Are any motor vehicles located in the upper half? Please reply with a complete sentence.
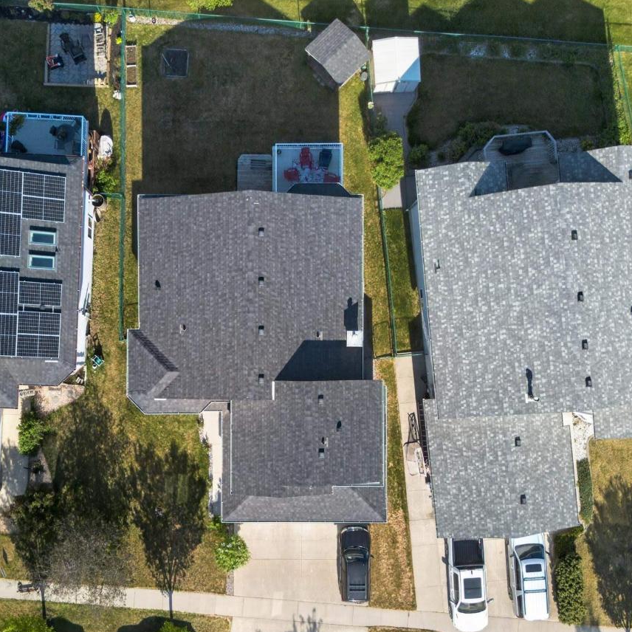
No, no motor vehicle can be made out in the upper half.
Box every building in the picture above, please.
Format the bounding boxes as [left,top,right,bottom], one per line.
[406,145,632,537]
[369,37,421,92]
[126,181,388,522]
[306,20,369,95]
[0,152,98,432]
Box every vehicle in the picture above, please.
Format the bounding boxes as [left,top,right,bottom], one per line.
[450,537,490,630]
[510,533,551,622]
[337,525,373,602]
